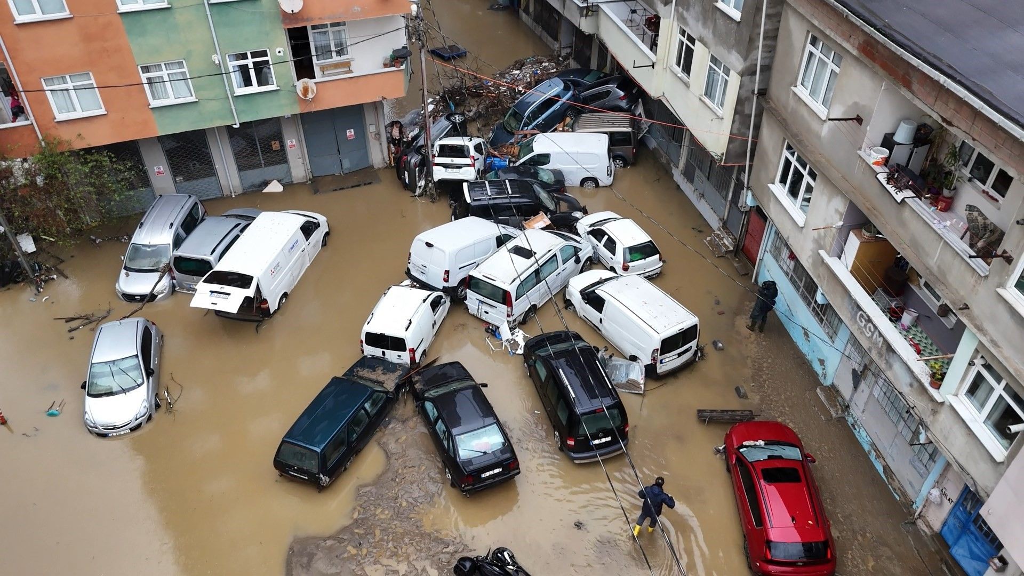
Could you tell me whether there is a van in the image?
Yes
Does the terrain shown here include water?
Yes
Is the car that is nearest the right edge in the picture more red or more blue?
red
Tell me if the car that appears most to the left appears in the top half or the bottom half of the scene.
bottom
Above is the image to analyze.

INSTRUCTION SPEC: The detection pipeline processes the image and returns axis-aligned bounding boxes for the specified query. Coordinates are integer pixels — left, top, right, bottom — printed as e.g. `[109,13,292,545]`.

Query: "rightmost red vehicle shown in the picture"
[726,427,835,576]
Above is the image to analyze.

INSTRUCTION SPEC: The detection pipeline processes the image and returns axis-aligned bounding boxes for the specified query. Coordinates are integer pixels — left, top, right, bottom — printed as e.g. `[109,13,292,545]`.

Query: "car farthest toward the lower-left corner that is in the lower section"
[77,318,161,431]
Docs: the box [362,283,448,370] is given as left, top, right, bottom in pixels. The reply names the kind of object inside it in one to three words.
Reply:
van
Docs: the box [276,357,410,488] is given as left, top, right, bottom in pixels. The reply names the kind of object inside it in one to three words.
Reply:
car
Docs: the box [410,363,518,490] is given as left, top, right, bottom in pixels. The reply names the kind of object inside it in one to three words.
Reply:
car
